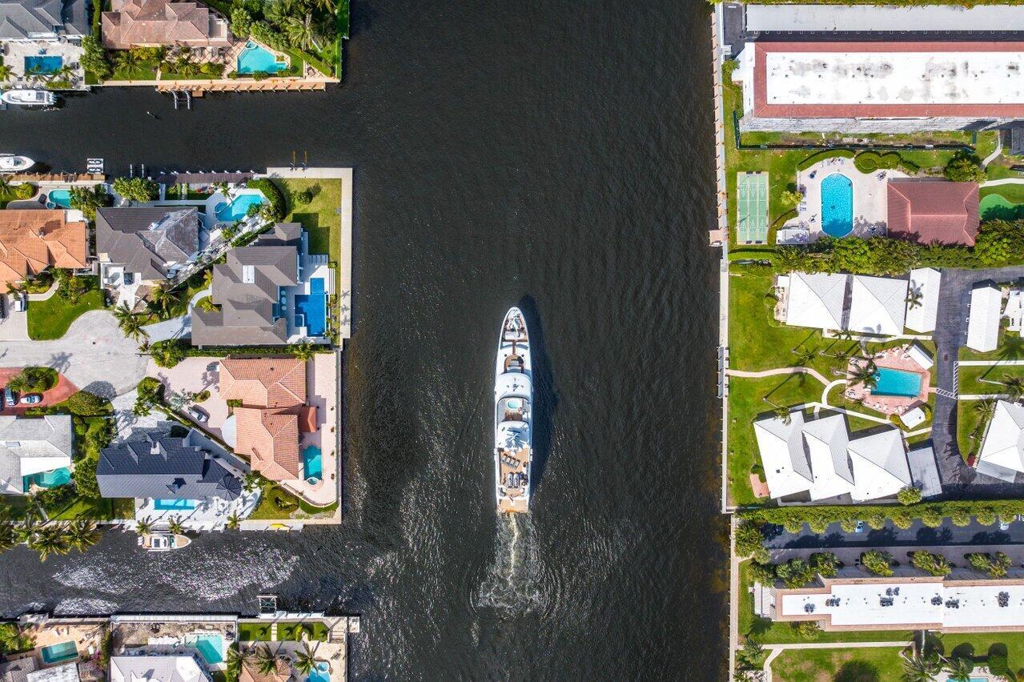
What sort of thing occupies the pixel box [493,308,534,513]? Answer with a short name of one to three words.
boat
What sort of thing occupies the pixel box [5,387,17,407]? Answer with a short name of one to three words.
vehicle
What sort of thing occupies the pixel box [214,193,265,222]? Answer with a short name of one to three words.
swimming pool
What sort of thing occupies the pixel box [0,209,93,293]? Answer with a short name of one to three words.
house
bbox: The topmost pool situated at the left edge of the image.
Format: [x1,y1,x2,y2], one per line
[23,54,63,75]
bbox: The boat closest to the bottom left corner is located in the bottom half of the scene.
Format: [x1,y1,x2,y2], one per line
[141,532,195,548]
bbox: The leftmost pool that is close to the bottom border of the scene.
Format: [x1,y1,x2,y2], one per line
[40,640,80,665]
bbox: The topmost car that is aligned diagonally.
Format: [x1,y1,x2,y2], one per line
[187,406,208,422]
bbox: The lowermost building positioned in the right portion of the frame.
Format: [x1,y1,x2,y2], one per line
[753,572,1024,633]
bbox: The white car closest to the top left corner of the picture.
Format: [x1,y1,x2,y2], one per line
[15,291,27,314]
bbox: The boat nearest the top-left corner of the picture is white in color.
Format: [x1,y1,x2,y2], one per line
[3,91,59,107]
